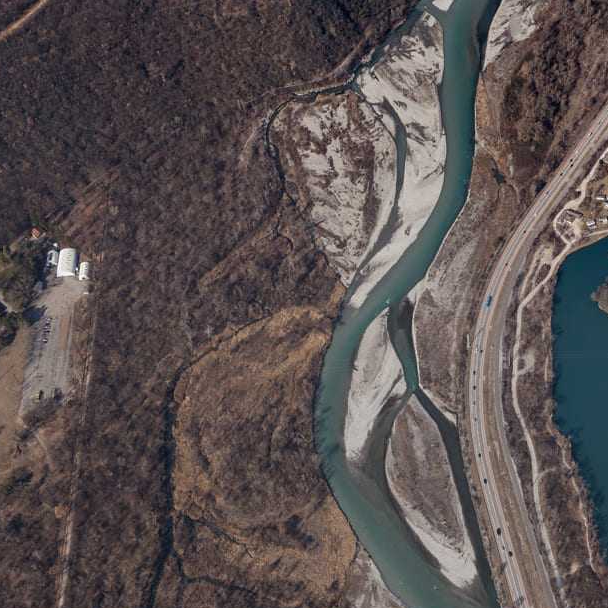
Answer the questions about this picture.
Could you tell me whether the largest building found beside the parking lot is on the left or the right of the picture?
left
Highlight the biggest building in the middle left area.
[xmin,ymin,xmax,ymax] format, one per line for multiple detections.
[56,249,77,277]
